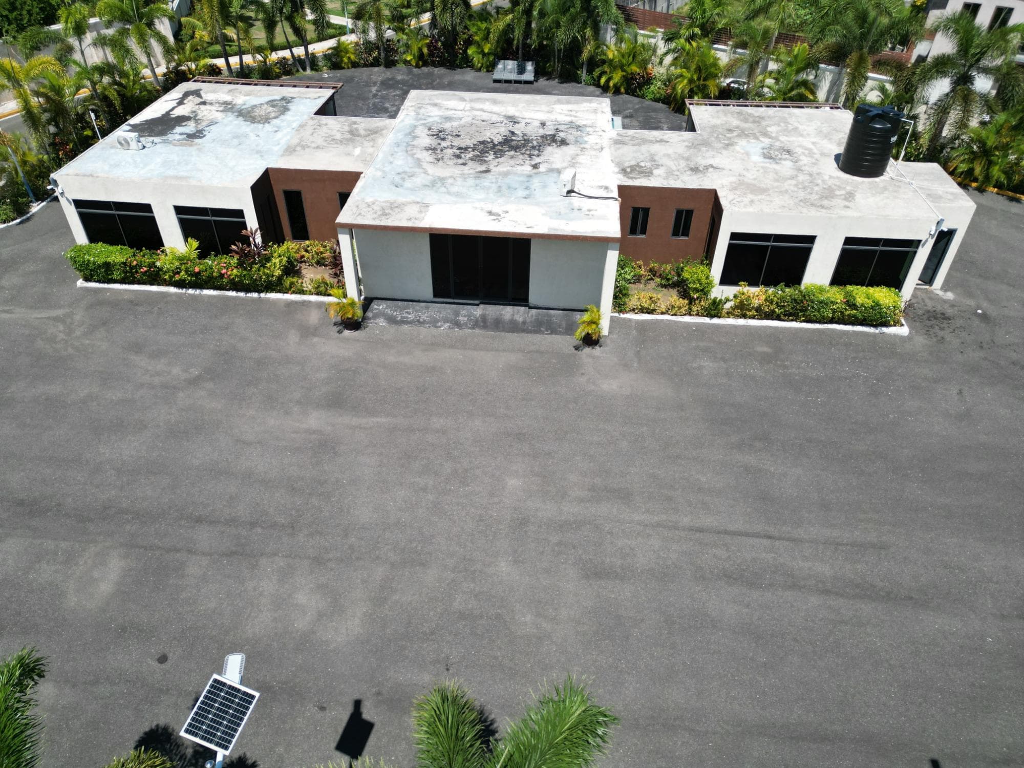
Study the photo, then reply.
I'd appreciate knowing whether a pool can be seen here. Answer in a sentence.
No, no pool can be seen from above.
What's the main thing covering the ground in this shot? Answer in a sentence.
For the most part, this view shows paved ground.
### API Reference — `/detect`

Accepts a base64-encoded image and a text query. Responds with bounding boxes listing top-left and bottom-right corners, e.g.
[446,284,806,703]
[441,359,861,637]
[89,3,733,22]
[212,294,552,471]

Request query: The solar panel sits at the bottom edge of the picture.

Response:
[180,674,260,755]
